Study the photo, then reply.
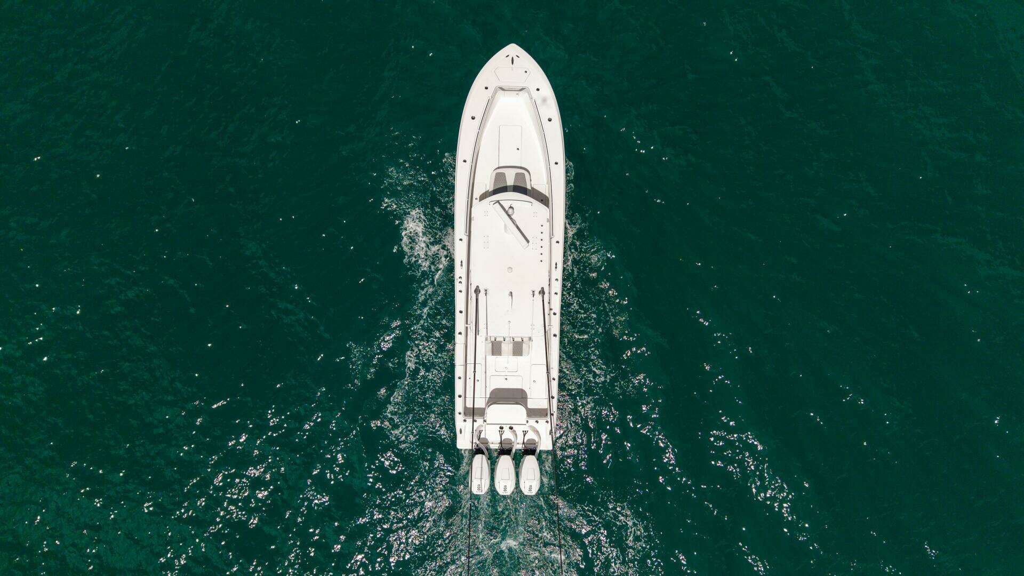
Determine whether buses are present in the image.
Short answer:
No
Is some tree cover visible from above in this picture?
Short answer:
No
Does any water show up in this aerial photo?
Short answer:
Yes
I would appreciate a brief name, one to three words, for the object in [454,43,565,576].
boat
